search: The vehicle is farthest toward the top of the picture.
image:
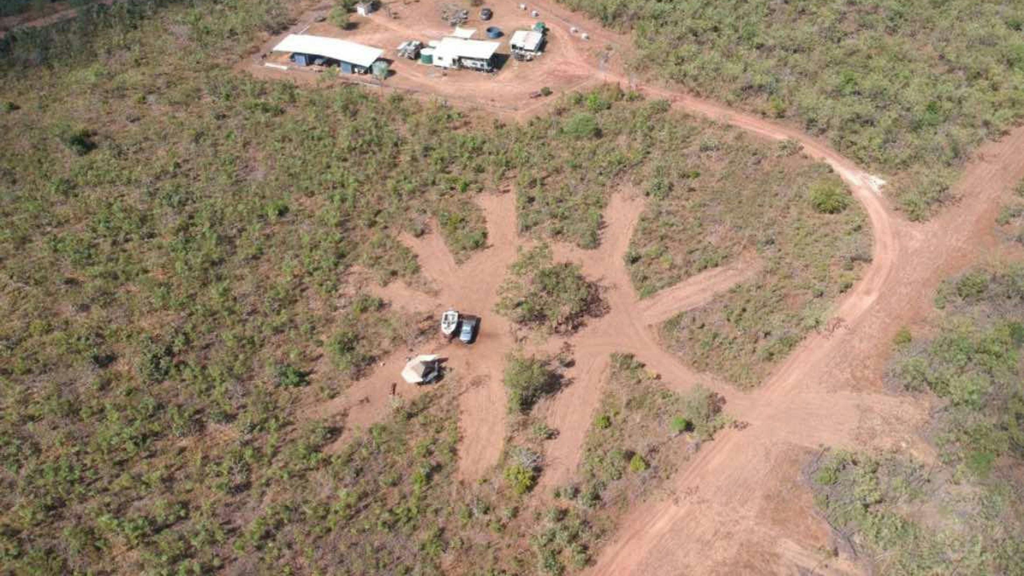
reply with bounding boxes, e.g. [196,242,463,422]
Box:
[479,8,491,21]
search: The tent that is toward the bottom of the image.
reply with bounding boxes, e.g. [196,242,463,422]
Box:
[401,353,449,383]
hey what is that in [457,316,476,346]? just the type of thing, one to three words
vehicle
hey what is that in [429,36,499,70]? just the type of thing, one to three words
house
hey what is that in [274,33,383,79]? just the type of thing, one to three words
shed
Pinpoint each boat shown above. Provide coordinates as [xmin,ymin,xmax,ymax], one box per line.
[443,309,458,336]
